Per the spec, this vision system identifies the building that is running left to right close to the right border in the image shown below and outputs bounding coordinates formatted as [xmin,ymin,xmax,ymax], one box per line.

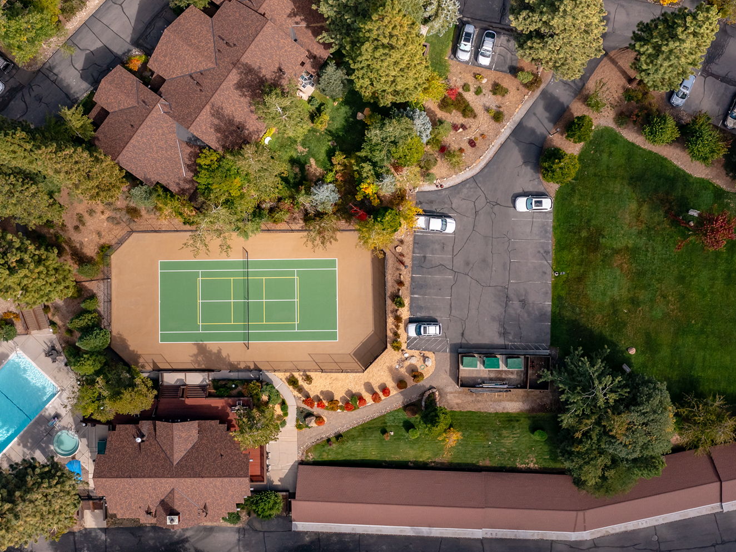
[483,445,722,541]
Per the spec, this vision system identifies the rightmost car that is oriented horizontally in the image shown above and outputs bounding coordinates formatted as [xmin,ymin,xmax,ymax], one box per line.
[515,194,553,213]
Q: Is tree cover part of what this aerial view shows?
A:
Yes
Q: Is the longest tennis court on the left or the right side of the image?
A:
left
